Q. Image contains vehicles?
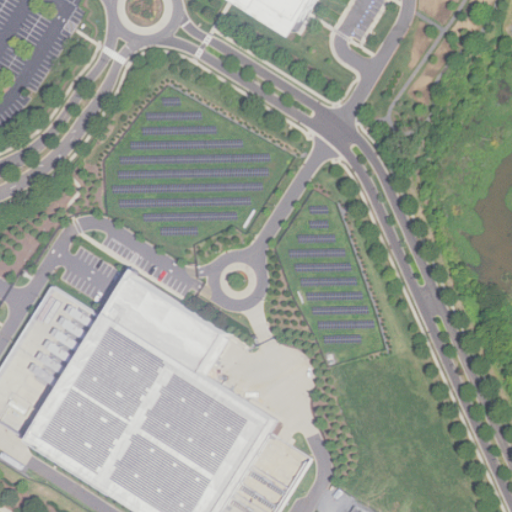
Yes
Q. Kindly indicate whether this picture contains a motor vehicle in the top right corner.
No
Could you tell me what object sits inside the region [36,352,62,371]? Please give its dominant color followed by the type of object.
white vehicle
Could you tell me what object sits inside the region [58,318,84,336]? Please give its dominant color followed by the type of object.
white vehicle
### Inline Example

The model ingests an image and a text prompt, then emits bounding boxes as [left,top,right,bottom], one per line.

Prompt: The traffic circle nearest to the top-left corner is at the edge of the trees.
[117,0,173,36]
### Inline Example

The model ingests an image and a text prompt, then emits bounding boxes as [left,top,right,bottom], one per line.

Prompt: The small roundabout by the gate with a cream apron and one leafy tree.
[219,262,256,299]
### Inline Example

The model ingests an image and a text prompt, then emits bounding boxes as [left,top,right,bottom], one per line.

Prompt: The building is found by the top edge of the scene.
[224,0,312,37]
